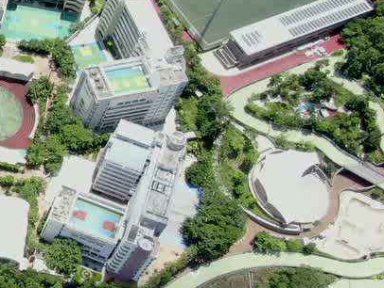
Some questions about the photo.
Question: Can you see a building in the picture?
Yes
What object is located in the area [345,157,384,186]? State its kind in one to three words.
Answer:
bridge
